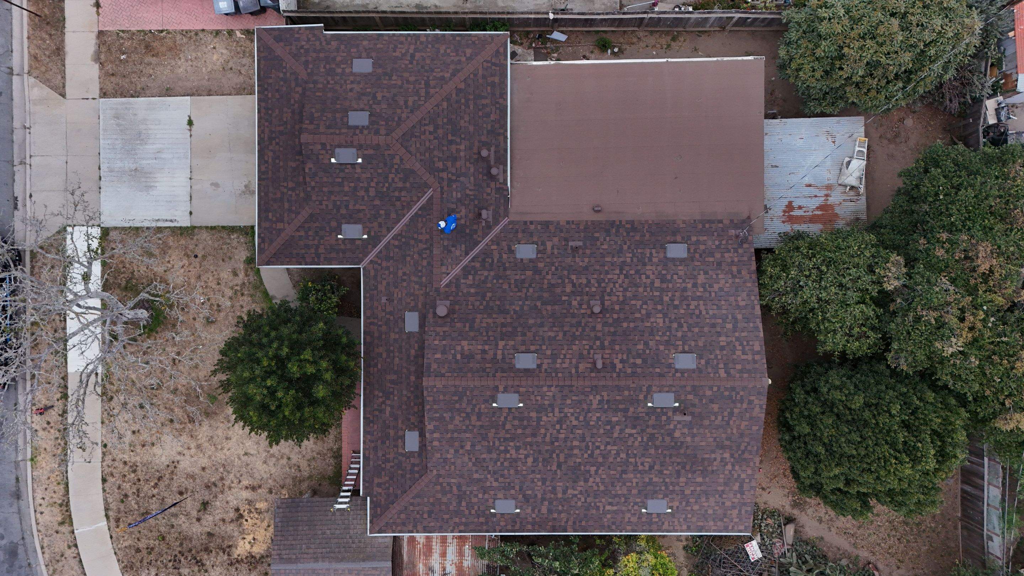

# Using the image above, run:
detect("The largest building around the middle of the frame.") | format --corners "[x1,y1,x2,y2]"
[254,23,772,537]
